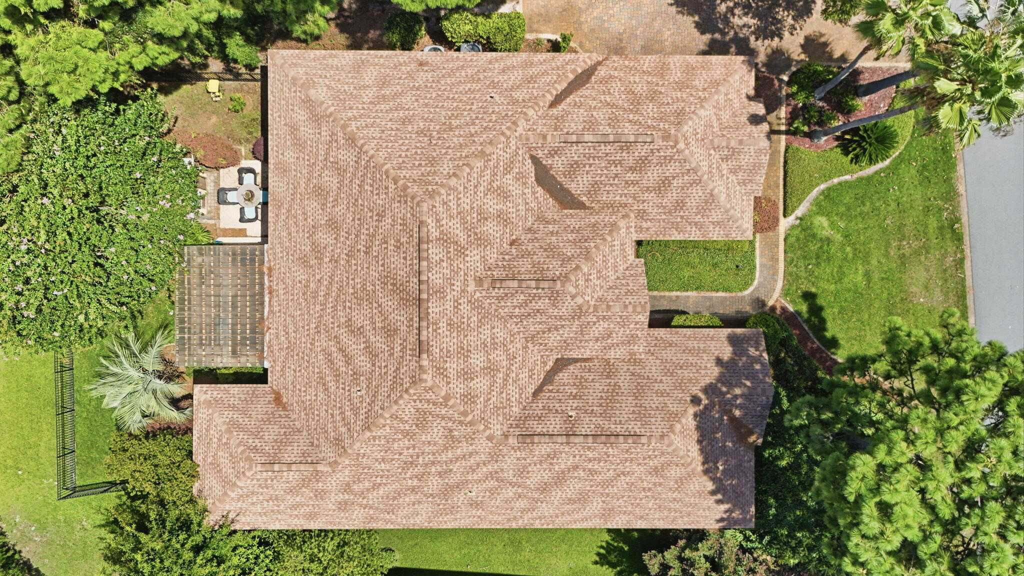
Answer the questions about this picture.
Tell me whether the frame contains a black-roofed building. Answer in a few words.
No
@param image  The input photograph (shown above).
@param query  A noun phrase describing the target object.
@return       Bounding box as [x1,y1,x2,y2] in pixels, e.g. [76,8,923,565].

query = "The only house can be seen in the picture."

[192,49,775,530]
